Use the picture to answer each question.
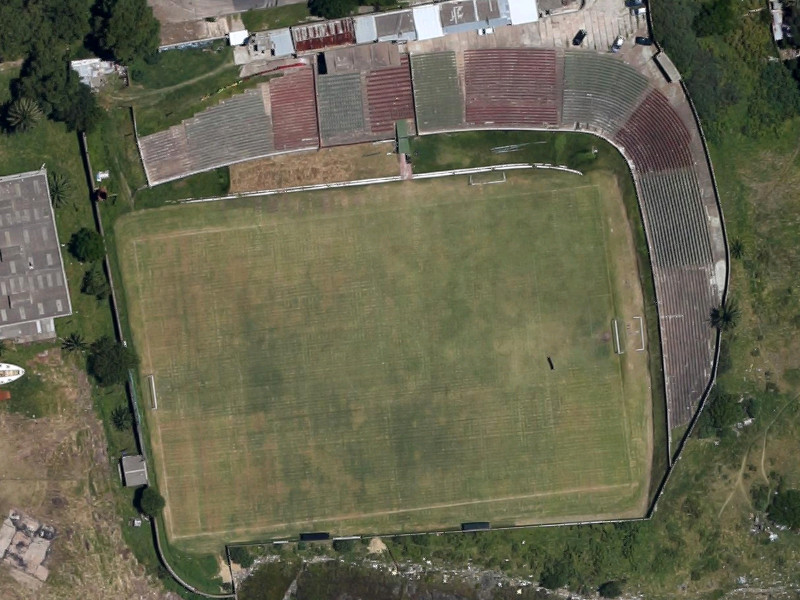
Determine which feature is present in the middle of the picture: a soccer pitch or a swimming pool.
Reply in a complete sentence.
What appears in the middle of the picture is a soccer pitch.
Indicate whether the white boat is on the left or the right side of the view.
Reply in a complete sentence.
The white boat sits on the left side.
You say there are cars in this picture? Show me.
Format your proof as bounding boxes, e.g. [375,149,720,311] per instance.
[477,27,495,35]
[571,28,588,47]
[623,0,643,7]
[610,34,626,52]
[635,36,653,45]
[631,5,649,15]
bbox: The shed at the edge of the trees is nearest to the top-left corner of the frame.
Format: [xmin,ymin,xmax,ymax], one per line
[72,59,113,88]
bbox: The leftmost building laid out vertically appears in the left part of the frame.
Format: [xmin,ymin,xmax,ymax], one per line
[0,165,75,330]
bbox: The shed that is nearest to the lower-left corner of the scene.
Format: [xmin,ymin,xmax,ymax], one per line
[122,455,148,487]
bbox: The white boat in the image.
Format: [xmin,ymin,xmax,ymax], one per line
[0,363,26,384]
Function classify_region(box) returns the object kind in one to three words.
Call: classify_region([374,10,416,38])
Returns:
building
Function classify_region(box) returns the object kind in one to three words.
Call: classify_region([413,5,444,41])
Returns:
building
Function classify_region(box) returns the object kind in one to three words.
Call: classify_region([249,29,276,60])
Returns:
house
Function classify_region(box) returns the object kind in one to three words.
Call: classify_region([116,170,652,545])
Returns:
soccer field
